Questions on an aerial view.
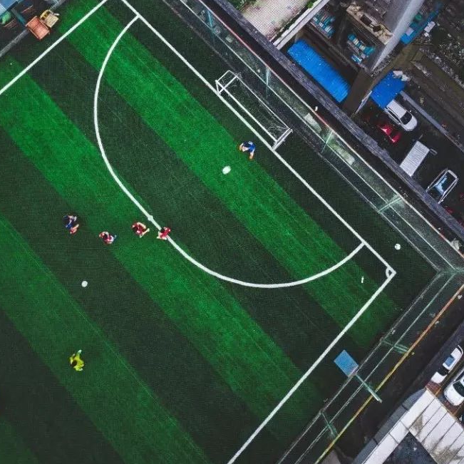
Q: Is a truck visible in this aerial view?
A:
Yes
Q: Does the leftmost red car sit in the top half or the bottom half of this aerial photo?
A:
top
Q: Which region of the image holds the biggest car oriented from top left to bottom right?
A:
top right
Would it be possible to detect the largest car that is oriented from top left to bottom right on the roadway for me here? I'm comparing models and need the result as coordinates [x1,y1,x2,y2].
[384,102,417,134]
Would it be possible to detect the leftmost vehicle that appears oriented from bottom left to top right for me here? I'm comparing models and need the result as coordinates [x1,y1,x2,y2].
[401,137,433,176]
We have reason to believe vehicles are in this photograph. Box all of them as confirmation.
[444,366,464,406]
[384,102,417,134]
[429,343,464,384]
[426,169,458,200]
[373,122,399,146]
[401,137,433,176]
